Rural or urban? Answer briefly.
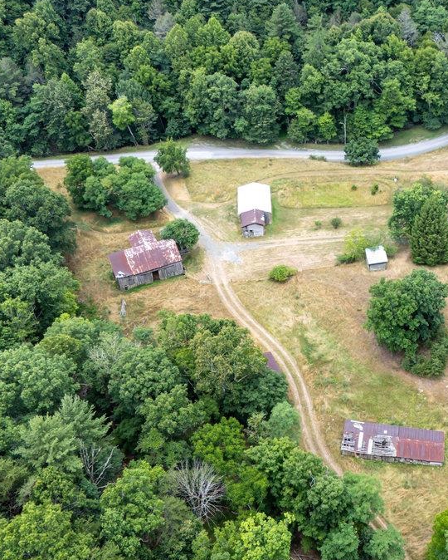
rural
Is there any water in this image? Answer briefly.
No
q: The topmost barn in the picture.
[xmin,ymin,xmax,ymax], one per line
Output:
[237,180,274,239]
